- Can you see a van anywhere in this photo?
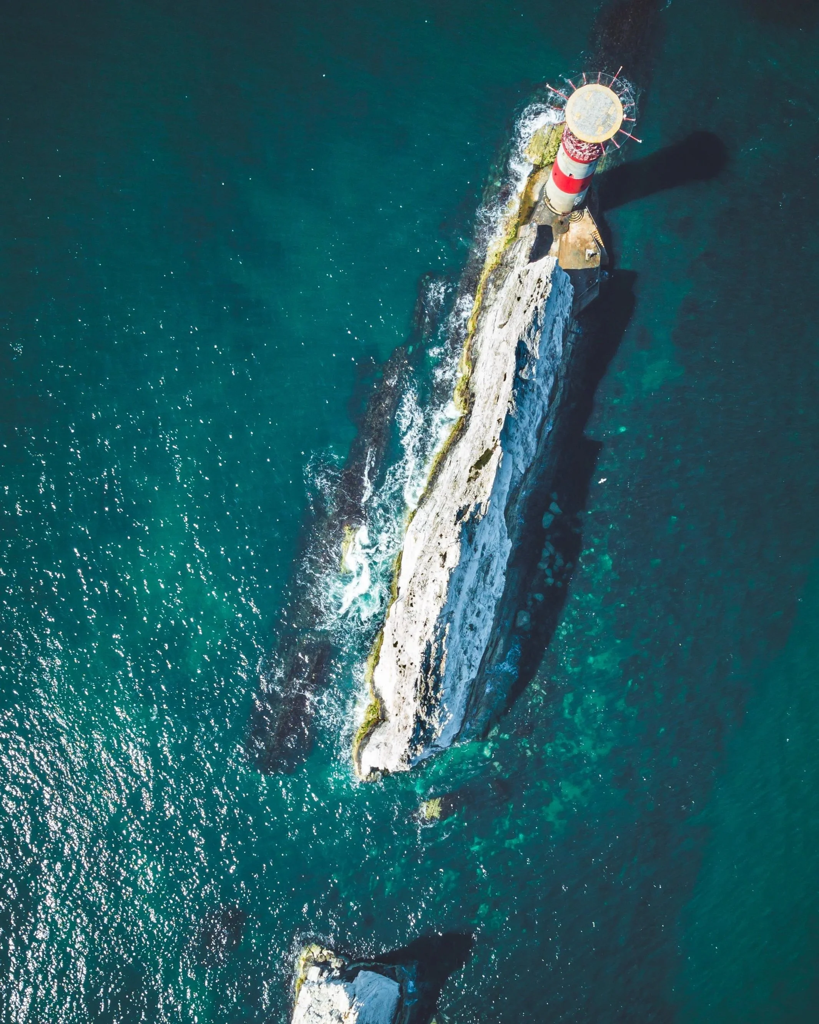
No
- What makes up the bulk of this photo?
water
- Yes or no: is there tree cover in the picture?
No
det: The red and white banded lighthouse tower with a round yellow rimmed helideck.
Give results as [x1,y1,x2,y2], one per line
[541,68,641,216]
